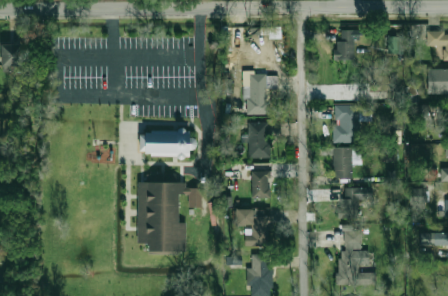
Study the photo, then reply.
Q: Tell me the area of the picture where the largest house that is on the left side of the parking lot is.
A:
top left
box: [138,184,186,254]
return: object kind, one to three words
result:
building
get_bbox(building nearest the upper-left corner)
[0,45,22,70]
